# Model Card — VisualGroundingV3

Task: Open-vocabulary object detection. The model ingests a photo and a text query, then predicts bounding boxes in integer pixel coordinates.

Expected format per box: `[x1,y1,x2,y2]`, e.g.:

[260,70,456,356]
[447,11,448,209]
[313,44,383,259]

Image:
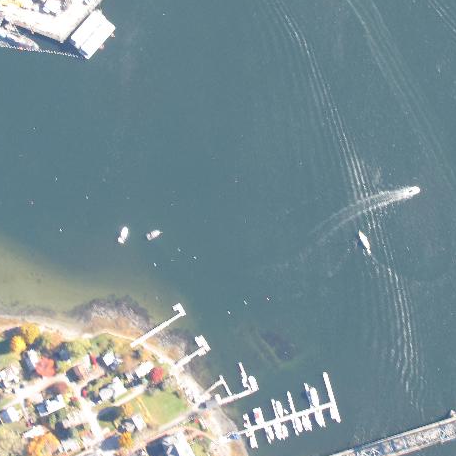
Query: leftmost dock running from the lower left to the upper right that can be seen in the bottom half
[131,304,184,348]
